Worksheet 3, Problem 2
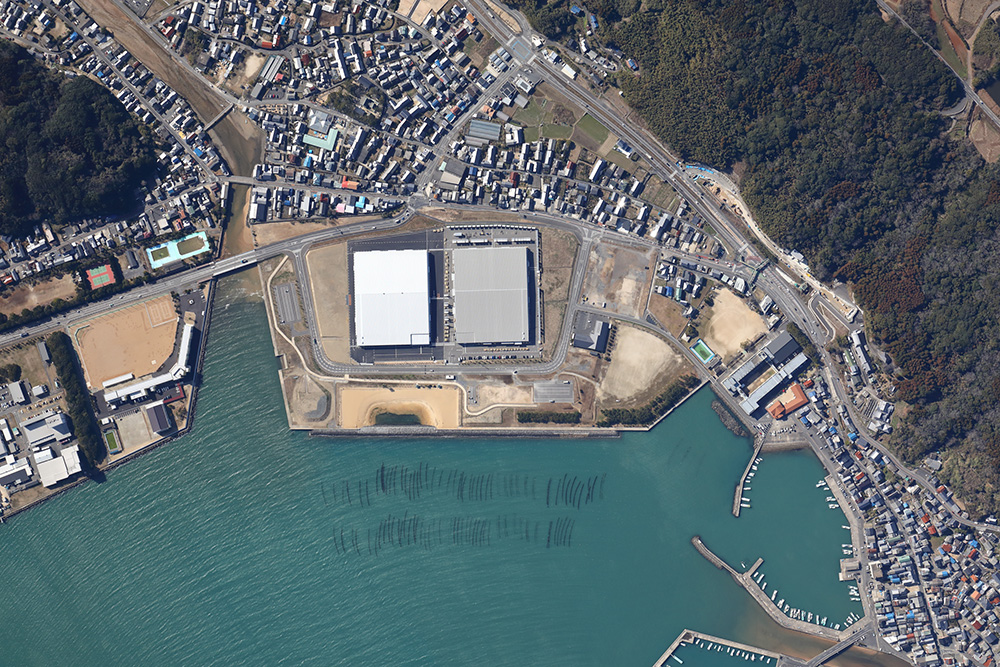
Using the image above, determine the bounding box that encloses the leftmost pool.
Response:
[104,430,123,454]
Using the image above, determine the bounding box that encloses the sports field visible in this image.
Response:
[70,294,178,389]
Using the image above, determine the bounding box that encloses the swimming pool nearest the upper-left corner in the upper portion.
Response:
[146,231,211,269]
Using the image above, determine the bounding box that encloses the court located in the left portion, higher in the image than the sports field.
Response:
[86,264,115,286]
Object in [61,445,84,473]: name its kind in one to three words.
building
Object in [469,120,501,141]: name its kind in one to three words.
greenhouse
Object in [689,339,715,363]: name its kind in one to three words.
swimming pool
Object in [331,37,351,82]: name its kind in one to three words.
building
